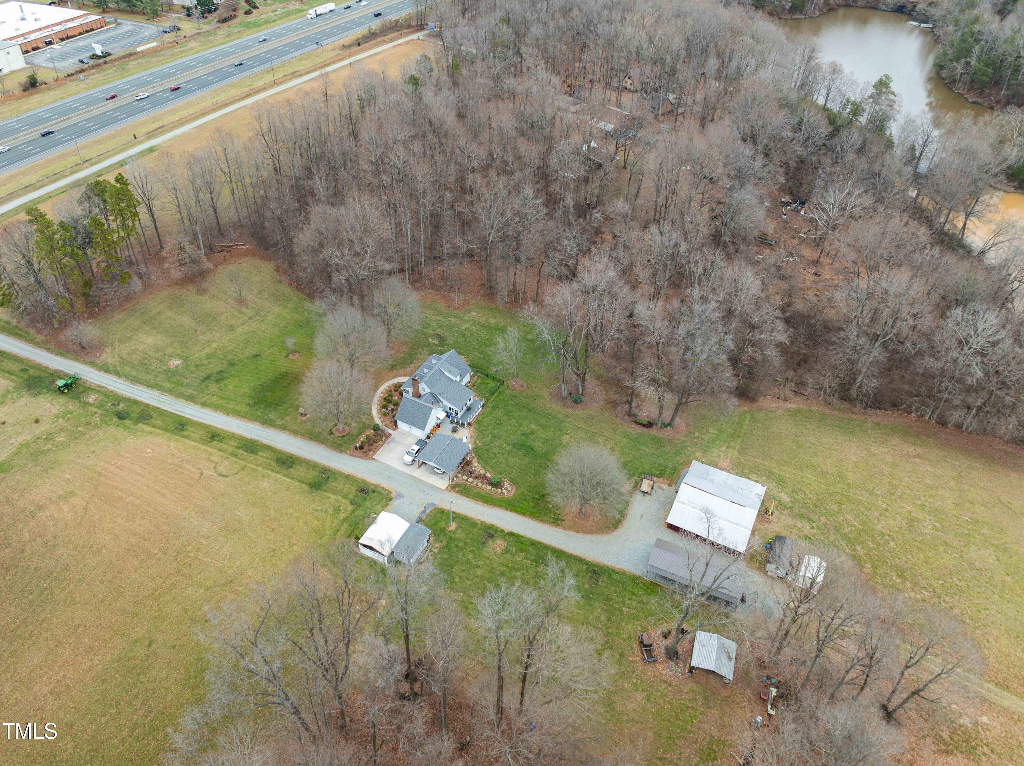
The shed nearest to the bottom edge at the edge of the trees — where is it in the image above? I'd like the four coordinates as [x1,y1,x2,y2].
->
[690,631,738,687]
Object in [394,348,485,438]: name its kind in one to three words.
house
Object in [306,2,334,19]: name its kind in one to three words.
vehicle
